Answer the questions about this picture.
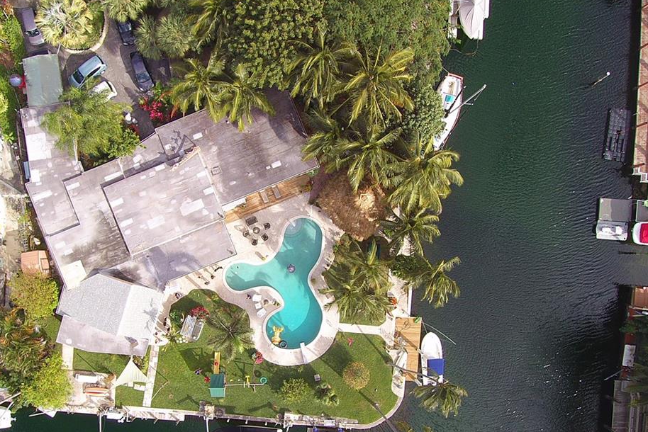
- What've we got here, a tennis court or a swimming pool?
swimming pool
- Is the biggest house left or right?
left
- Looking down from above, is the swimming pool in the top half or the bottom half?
bottom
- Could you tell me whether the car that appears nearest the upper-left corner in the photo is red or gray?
gray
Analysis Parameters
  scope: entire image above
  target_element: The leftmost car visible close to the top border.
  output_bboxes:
[17,4,45,48]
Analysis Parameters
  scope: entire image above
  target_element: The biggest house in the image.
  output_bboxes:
[20,90,319,356]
